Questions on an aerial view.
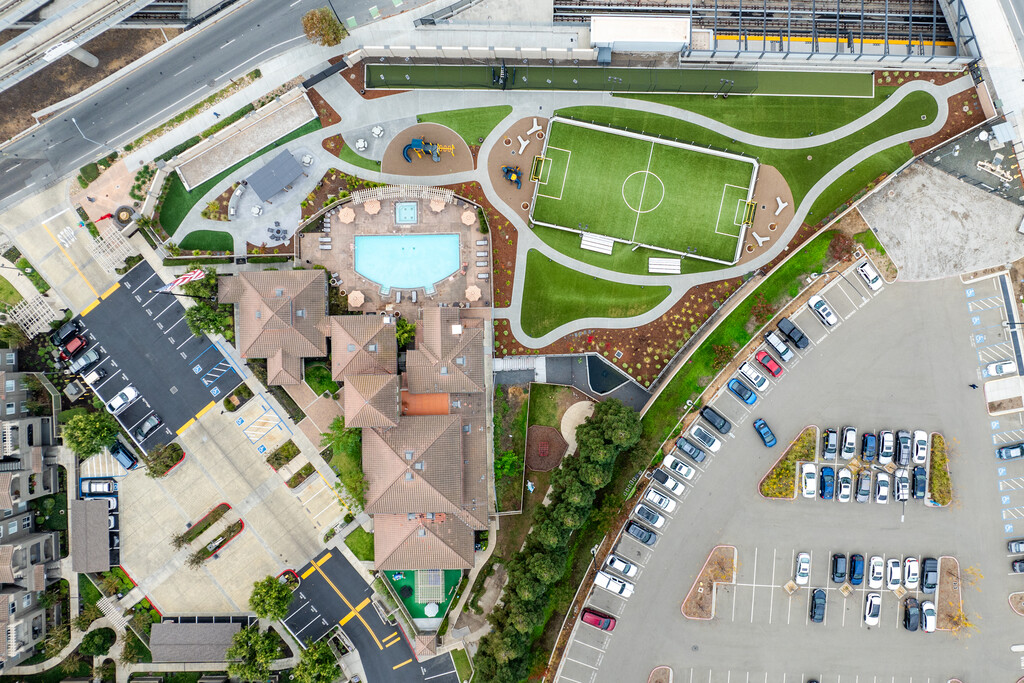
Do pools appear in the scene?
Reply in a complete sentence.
Yes, looking at the shot, I can spot a pool.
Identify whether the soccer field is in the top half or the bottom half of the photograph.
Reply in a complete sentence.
The soccer field is in the top half of the image.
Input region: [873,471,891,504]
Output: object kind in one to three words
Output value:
car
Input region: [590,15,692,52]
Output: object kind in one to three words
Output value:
building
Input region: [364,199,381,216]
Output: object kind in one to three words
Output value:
umbrella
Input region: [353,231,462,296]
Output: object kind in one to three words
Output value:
swimming pool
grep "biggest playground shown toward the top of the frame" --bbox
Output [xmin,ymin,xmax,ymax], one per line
[402,133,456,163]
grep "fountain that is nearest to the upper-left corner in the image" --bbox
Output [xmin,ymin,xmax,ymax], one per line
[112,205,133,225]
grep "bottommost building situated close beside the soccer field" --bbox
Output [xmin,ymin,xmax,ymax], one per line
[217,270,488,570]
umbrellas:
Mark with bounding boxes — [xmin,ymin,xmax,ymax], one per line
[430,198,446,215]
[460,210,477,227]
[424,600,439,615]
[339,207,357,224]
[364,199,381,216]
[465,285,482,302]
[400,584,413,597]
[348,290,365,307]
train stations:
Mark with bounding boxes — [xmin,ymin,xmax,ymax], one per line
[553,0,981,65]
